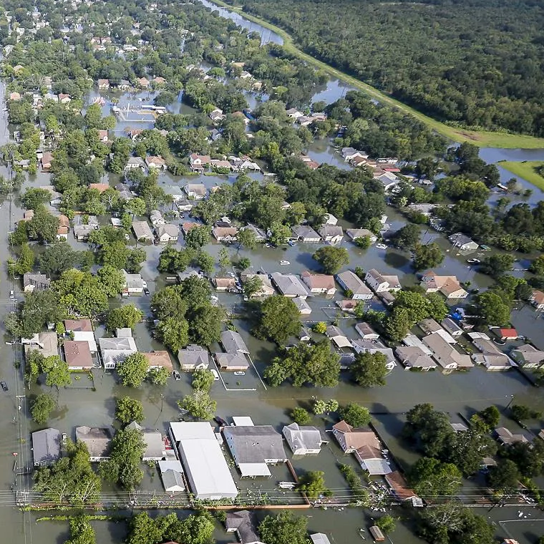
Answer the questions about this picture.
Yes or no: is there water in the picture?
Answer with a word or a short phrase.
Yes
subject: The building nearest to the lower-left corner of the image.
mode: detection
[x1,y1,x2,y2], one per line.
[31,432,60,467]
